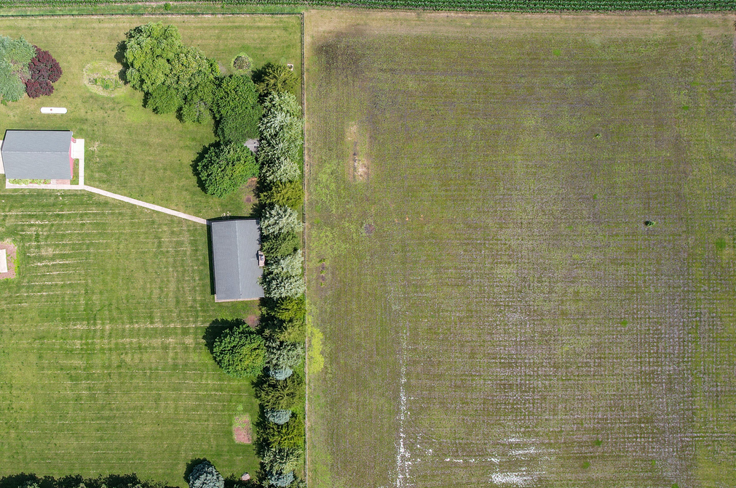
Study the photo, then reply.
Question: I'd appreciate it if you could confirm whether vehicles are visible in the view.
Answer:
No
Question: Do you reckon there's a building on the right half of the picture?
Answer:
No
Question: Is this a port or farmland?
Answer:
farmland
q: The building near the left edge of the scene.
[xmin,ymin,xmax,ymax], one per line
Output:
[1,130,74,180]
